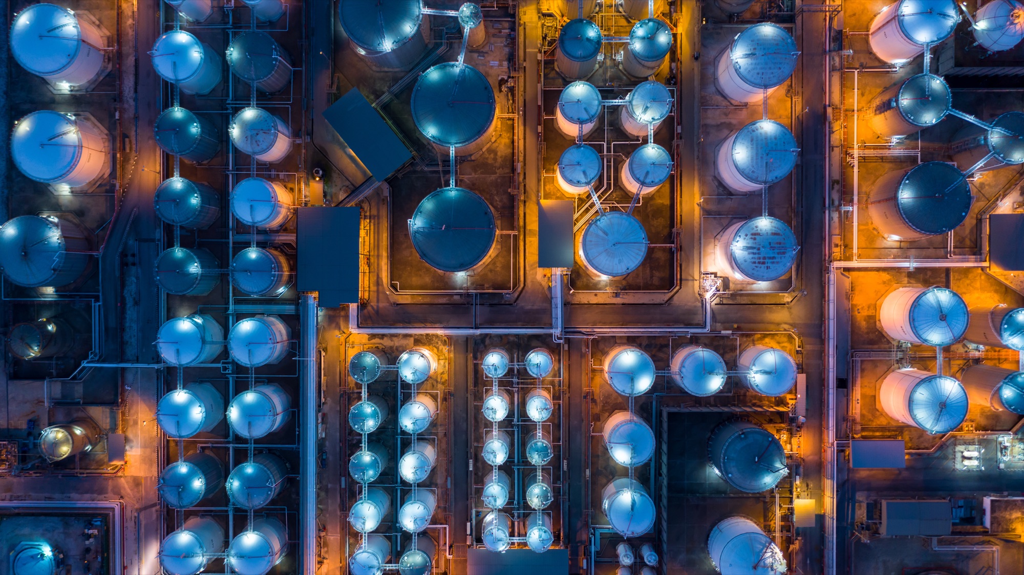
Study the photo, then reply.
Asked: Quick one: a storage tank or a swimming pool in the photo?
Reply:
storage tank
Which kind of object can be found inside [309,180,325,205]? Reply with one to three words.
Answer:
shed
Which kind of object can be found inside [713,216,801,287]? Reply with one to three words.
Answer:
storage tank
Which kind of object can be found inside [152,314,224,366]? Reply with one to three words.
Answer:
storage tank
